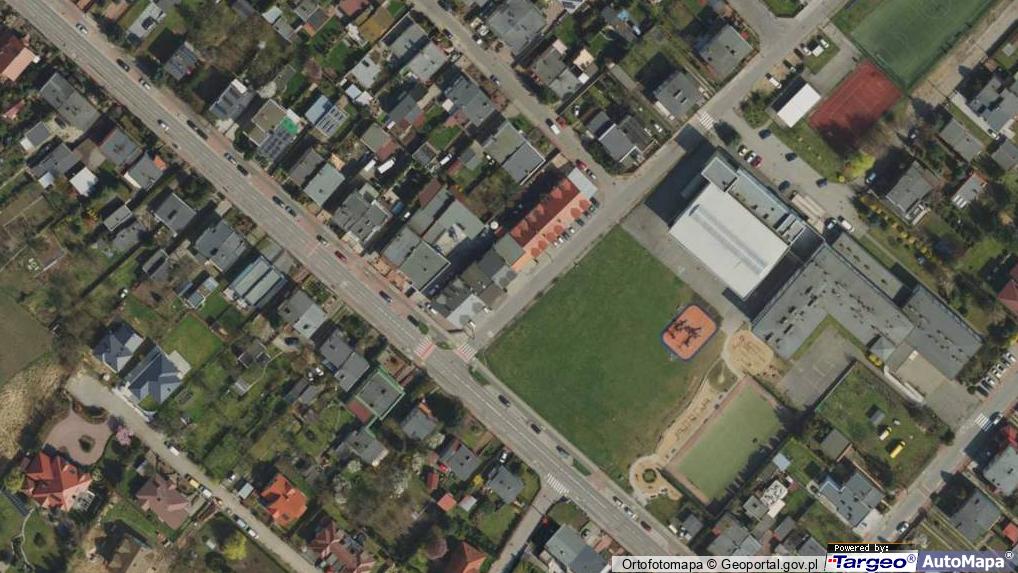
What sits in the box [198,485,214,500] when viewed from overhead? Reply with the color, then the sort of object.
white vehicle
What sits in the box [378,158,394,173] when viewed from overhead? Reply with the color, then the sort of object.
white vehicle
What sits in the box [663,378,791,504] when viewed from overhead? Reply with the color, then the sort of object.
green sports field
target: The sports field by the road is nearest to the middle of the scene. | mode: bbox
[488,230,734,483]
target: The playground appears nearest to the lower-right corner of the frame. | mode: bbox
[721,329,775,379]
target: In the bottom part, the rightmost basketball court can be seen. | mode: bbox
[791,343,843,401]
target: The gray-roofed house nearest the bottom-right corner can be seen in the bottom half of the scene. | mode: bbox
[951,490,1004,542]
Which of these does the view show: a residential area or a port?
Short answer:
residential area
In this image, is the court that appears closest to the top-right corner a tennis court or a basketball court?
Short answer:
tennis court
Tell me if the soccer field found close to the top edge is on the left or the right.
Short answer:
right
